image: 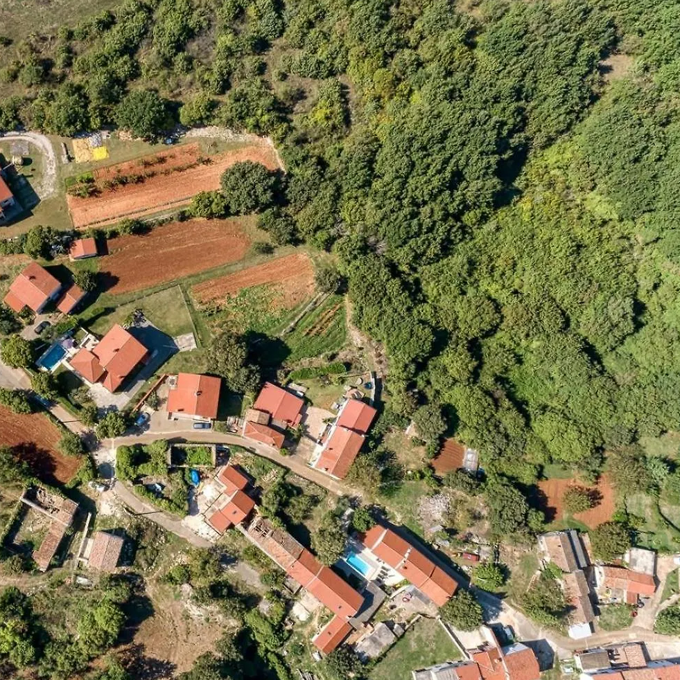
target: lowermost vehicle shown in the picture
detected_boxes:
[502,623,518,644]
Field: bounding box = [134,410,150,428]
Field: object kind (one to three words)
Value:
car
